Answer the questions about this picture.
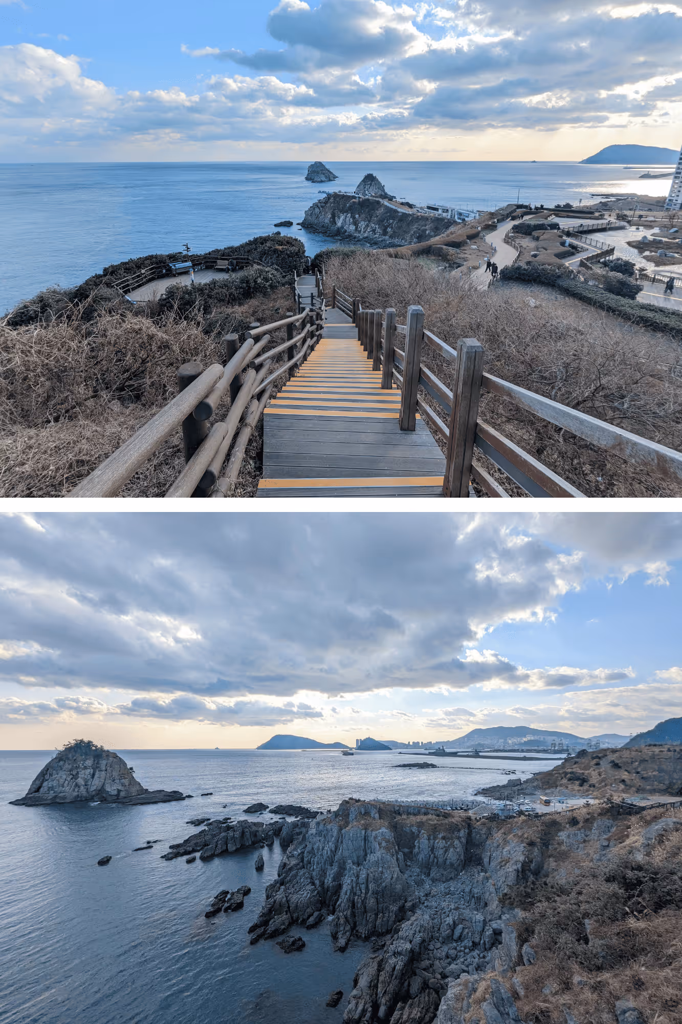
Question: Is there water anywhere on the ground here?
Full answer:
Yes, water shows up in the scene.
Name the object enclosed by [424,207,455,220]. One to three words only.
building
